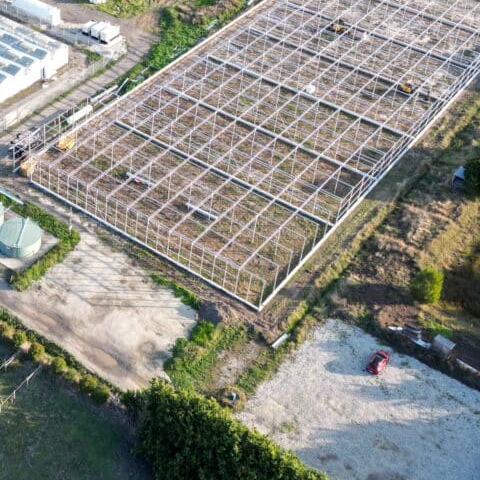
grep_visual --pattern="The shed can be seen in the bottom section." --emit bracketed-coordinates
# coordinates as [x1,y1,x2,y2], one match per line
[432,334,459,362]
